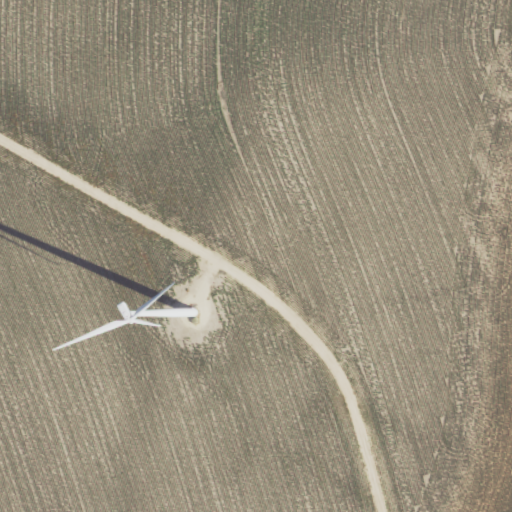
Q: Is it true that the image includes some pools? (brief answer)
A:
No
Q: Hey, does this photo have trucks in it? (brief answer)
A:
No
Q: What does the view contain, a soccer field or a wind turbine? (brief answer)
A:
wind turbine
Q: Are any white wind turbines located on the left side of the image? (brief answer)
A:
Yes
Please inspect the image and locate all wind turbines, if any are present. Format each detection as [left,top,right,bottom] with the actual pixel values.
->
[54,282,198,350]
